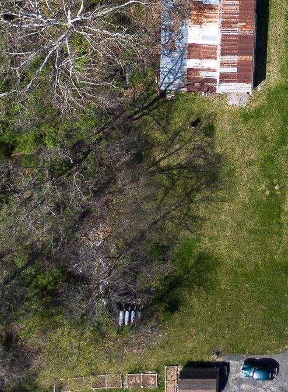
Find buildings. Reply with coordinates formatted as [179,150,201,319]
[159,0,259,95]
[177,370,219,392]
